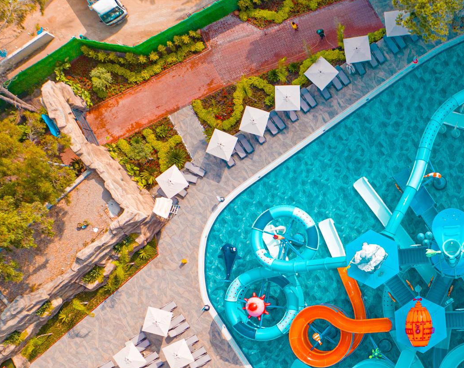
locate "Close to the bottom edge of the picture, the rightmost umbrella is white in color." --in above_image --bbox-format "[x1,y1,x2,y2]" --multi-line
[162,338,196,368]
